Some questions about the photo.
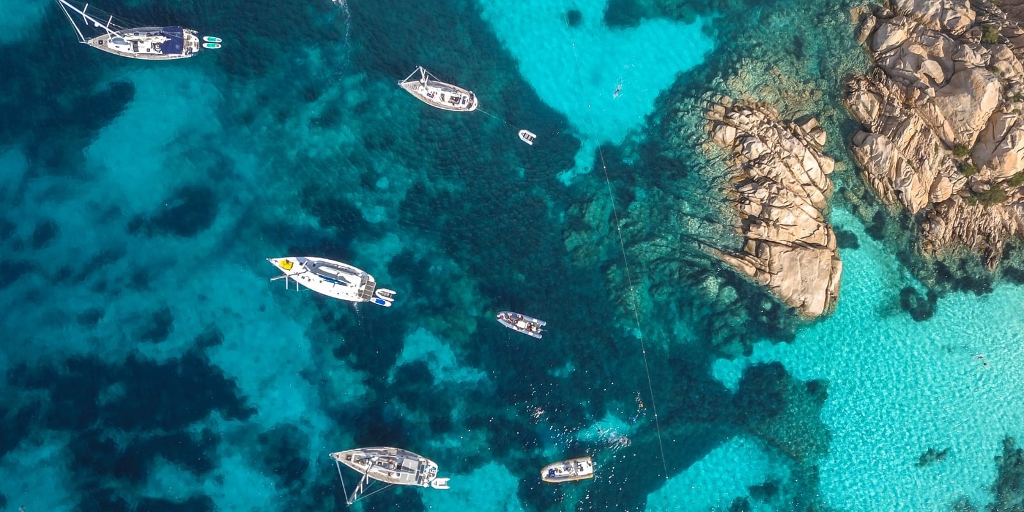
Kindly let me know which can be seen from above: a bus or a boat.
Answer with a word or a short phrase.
boat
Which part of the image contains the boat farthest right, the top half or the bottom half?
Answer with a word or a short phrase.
bottom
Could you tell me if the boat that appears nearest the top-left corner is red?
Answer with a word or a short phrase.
No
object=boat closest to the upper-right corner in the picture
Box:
[518,129,536,145]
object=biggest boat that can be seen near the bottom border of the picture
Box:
[329,446,439,509]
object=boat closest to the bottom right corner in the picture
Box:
[540,456,596,483]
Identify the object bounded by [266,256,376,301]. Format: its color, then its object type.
white boat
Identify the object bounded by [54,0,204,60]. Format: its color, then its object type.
white boat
